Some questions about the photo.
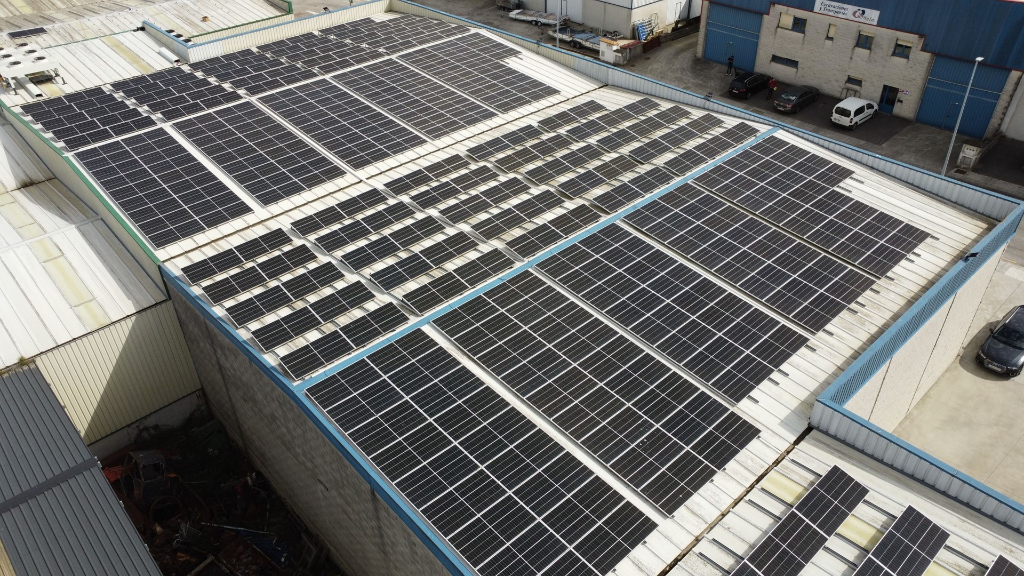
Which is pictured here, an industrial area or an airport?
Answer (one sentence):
It's an industrial area.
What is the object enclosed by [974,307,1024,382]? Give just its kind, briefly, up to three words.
car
